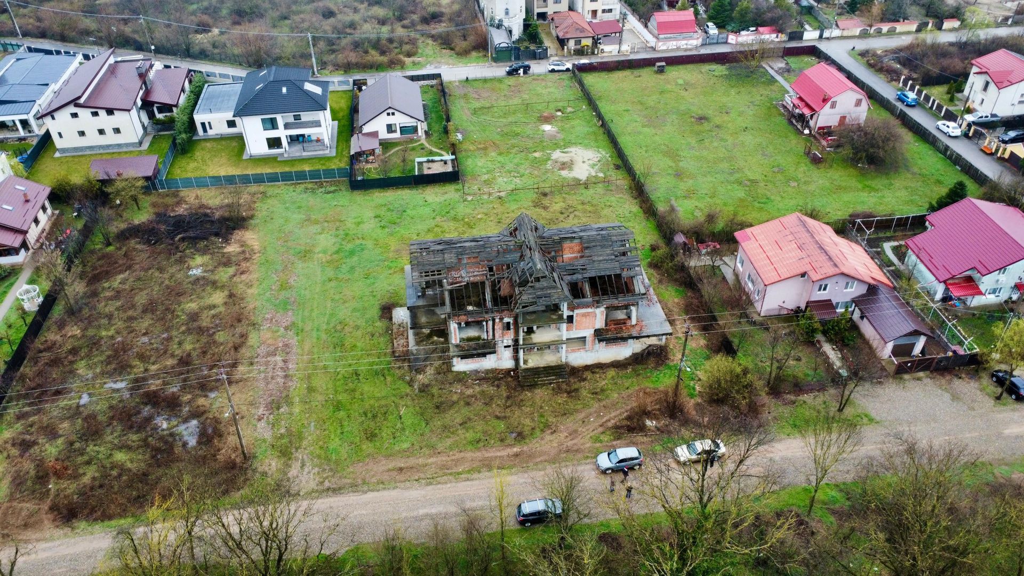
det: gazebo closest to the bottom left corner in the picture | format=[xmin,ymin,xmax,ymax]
[11,284,44,314]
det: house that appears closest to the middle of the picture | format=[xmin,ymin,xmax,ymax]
[391,211,672,386]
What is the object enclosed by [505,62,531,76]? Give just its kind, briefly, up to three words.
car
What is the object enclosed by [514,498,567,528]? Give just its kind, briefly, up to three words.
car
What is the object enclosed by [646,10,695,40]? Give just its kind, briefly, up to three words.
building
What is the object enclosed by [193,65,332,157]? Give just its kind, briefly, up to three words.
house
